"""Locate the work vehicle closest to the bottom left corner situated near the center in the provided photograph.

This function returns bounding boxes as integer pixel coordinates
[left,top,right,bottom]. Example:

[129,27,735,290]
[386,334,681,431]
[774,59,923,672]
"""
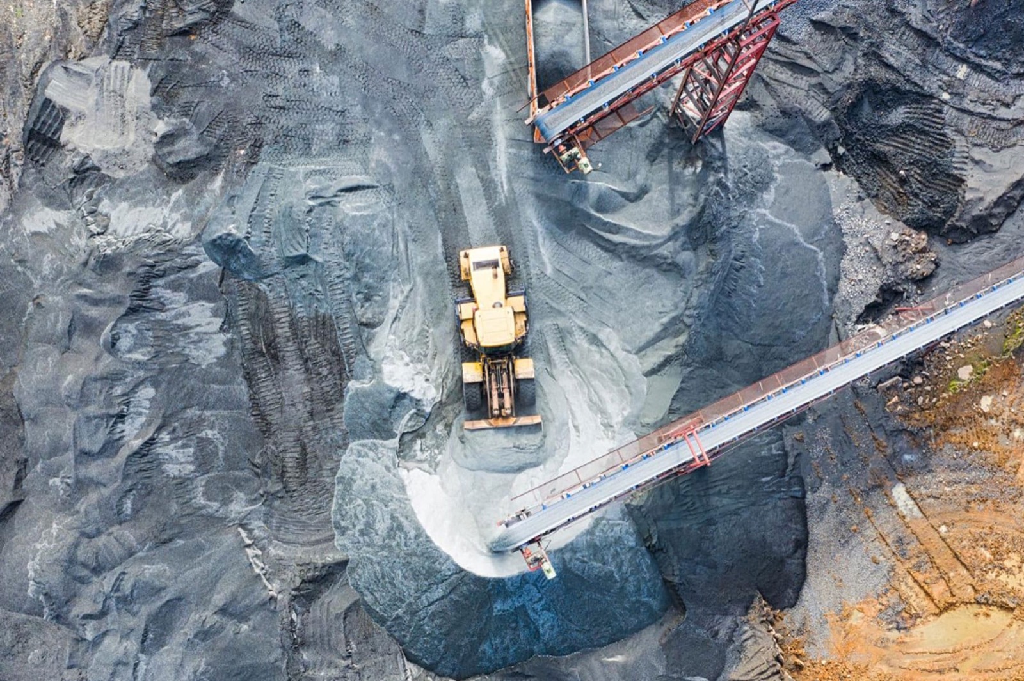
[452,246,546,445]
